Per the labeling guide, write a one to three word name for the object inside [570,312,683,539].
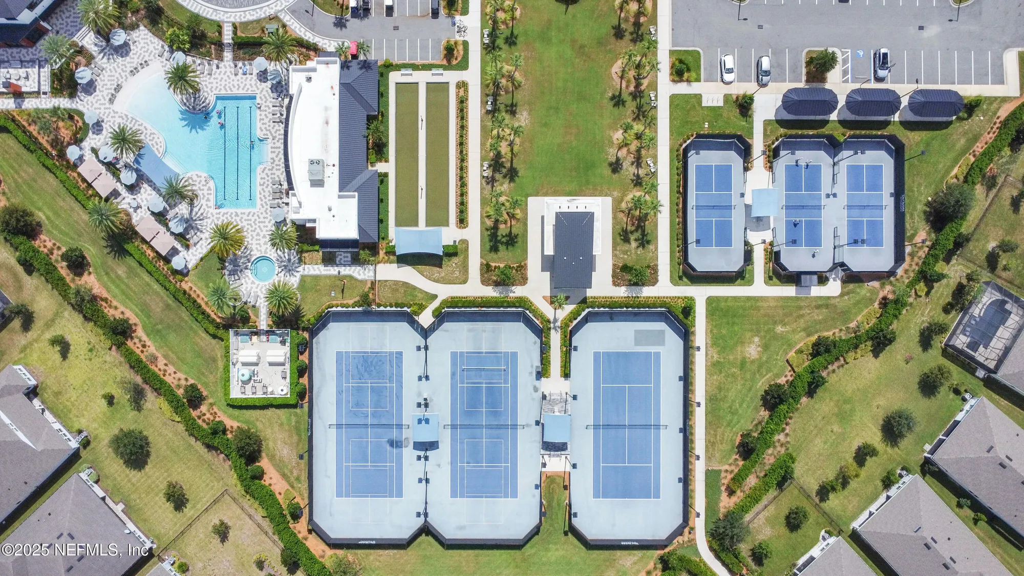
tennis court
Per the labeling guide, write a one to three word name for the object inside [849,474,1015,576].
house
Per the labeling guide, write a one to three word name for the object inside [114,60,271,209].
swimming pool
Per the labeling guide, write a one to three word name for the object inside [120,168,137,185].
umbrella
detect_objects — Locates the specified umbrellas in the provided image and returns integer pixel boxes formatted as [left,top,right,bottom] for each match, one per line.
[148,197,164,213]
[120,168,137,185]
[171,53,187,67]
[98,145,116,162]
[254,56,268,71]
[66,145,84,160]
[267,69,282,83]
[271,208,285,222]
[170,215,186,232]
[83,109,101,125]
[75,67,92,84]
[171,255,187,270]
